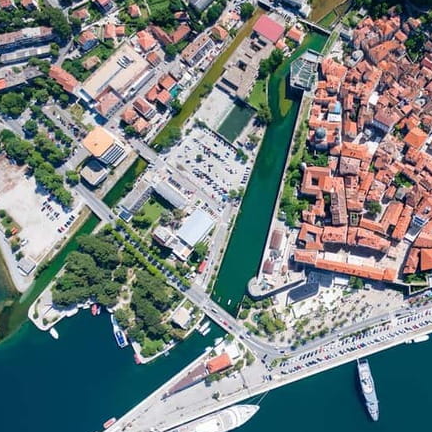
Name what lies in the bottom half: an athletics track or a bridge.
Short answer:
bridge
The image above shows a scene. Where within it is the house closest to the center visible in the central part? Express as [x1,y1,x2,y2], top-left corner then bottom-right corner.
[177,208,216,245]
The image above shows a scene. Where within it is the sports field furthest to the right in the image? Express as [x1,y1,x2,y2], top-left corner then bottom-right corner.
[218,102,257,145]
